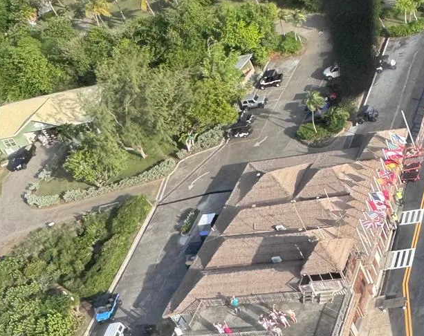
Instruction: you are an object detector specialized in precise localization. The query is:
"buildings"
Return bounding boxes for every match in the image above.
[0,56,110,157]
[165,122,409,336]
[227,52,254,85]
